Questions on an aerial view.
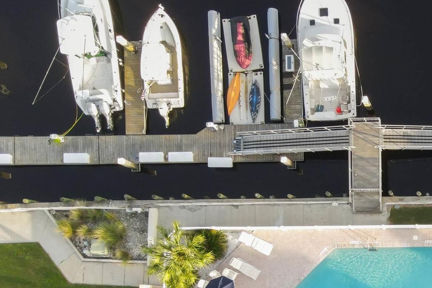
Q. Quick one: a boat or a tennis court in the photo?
boat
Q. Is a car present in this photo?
No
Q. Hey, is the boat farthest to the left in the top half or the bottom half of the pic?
top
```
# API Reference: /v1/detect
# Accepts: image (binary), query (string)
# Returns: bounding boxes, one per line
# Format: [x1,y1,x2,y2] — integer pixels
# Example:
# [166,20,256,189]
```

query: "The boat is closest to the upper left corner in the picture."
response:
[33,0,124,136]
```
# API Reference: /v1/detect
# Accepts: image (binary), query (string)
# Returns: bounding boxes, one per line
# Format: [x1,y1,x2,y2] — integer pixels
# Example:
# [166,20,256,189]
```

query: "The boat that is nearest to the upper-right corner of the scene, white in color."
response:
[294,0,356,123]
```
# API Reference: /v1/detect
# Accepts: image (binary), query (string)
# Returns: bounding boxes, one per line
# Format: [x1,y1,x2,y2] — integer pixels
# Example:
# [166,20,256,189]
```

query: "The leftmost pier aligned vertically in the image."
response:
[124,40,147,135]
